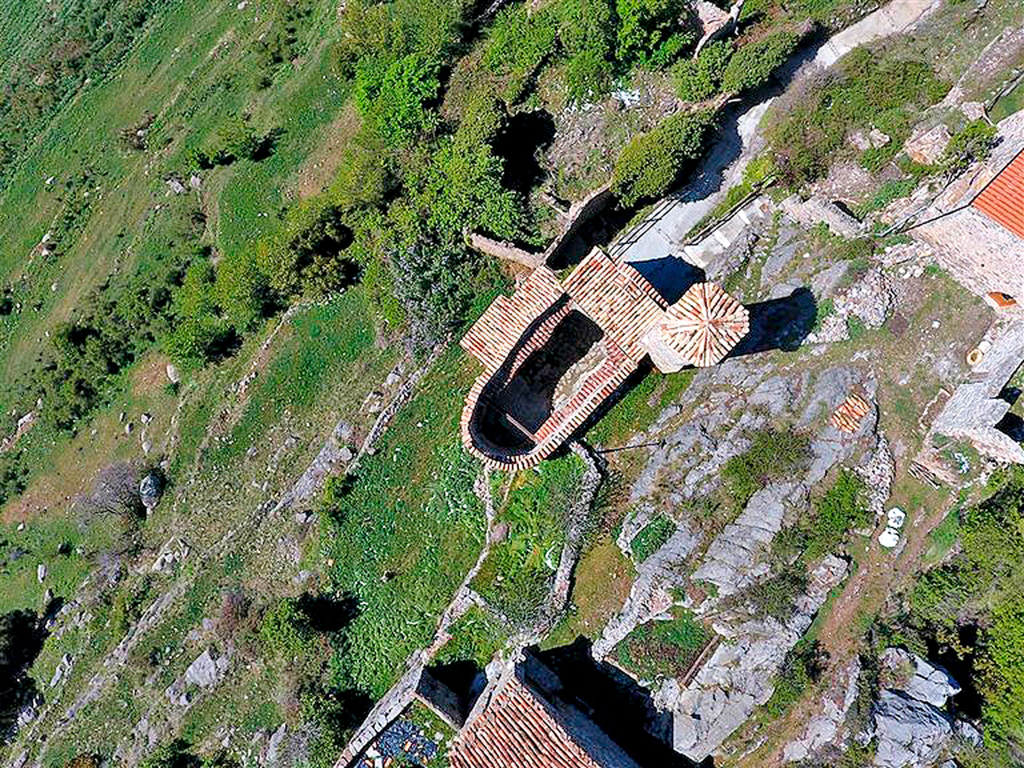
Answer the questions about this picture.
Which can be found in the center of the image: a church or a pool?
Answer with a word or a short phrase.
church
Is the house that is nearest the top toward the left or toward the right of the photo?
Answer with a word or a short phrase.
right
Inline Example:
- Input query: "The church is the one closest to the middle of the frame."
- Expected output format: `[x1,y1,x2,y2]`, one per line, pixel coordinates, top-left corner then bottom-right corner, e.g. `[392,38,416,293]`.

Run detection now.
[459,245,672,472]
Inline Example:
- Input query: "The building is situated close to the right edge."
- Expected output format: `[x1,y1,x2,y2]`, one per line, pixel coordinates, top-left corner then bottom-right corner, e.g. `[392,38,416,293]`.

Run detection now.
[902,121,1024,319]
